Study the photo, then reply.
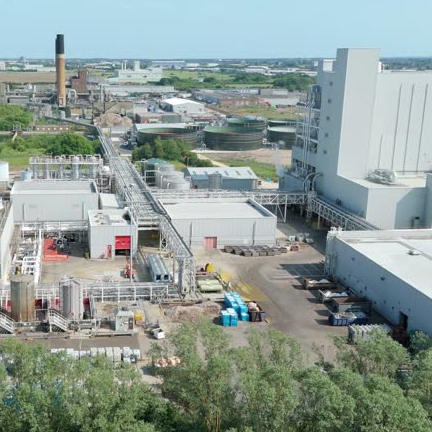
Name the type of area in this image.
industrial area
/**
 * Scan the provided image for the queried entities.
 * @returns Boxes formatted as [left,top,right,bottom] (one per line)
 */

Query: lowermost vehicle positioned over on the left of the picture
[149,321,175,340]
